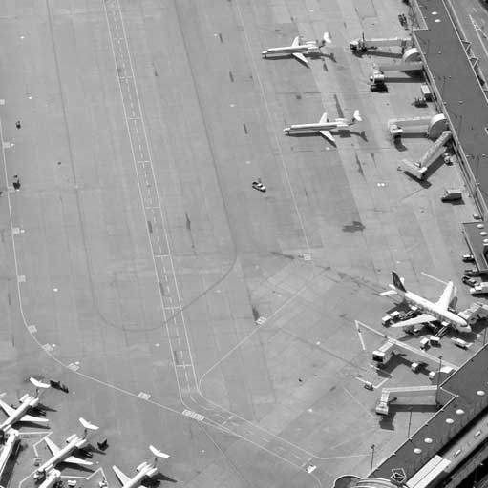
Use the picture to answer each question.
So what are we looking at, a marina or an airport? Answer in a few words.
airport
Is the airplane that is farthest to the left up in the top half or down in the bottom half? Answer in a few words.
bottom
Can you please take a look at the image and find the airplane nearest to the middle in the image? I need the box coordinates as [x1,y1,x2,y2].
[285,107,362,140]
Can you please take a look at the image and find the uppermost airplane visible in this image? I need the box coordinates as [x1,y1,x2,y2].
[263,31,335,62]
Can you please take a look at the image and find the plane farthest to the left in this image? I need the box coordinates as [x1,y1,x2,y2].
[0,377,55,437]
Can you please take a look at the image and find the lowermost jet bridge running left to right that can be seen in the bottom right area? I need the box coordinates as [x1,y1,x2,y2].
[374,384,441,417]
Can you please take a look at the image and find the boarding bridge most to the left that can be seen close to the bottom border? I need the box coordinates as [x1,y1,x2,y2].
[0,426,19,486]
